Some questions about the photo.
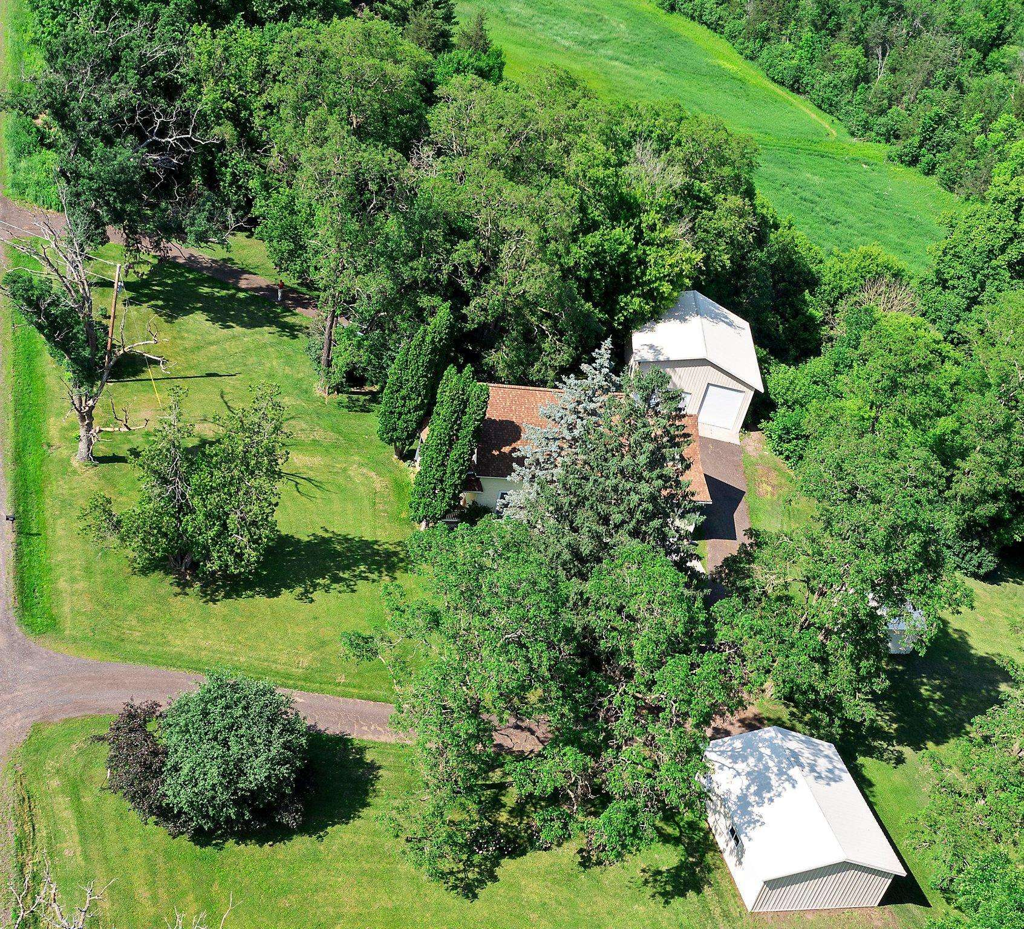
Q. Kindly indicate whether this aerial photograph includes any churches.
No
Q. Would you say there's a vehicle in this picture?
No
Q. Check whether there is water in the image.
No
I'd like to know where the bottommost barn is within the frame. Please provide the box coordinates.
[695,728,906,914]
